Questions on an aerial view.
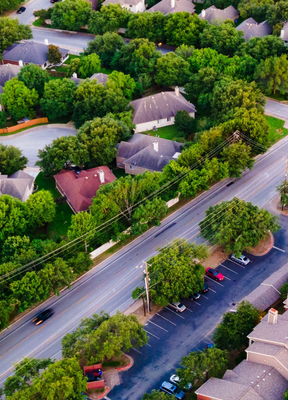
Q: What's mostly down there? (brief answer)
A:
trees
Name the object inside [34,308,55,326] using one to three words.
car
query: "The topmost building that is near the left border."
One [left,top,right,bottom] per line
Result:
[1,37,70,72]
